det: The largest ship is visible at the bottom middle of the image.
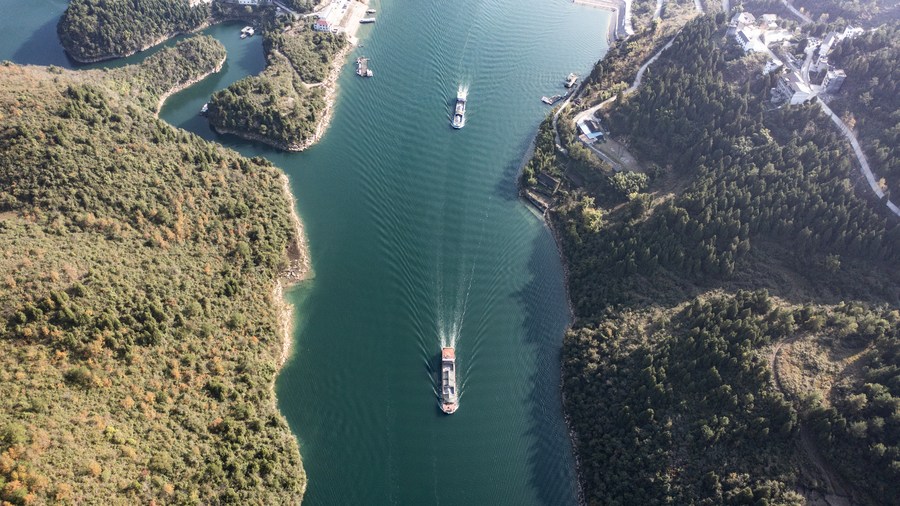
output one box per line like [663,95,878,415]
[439,347,457,409]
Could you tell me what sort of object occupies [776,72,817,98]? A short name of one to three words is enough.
building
